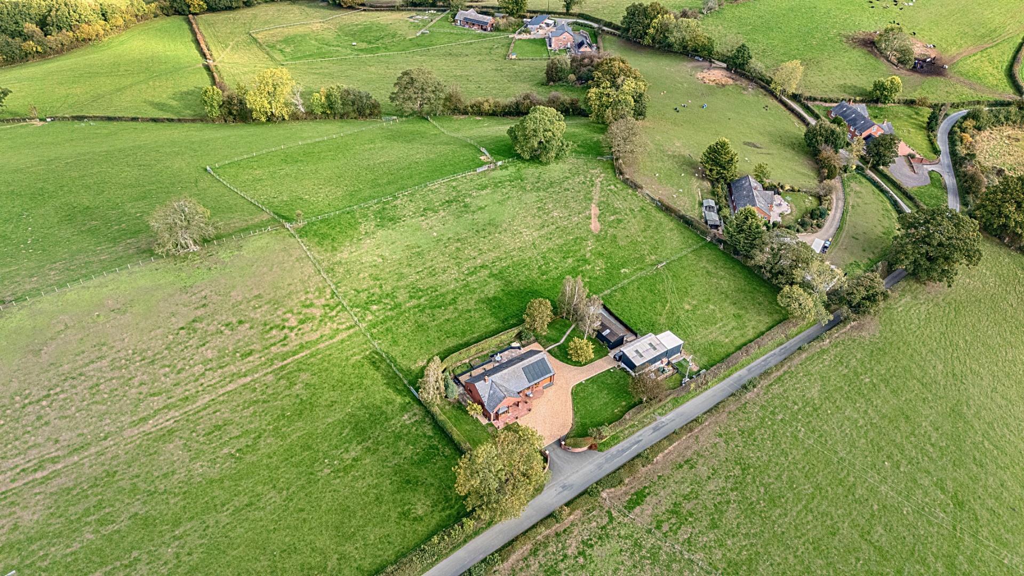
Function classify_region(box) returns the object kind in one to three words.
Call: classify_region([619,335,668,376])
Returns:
shed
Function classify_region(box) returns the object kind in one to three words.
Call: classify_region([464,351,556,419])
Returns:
house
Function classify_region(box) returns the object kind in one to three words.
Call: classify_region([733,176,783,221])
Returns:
house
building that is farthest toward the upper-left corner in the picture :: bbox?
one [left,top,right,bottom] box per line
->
[455,12,494,31]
